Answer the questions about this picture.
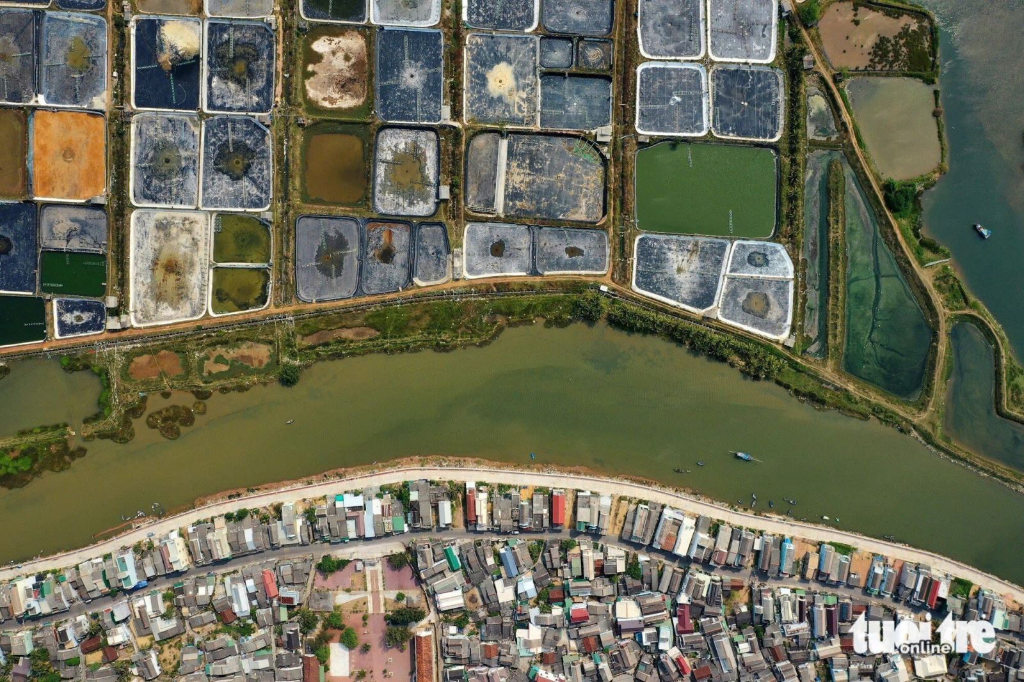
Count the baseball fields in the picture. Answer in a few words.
0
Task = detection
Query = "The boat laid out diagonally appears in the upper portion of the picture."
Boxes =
[975,224,991,238]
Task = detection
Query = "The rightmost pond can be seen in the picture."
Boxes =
[942,324,1024,474]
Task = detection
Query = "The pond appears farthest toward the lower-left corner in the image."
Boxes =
[0,358,100,439]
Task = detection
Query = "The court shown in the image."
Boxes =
[330,643,349,677]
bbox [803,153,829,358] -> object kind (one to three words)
pond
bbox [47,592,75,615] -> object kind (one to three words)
house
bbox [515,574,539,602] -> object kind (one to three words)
house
